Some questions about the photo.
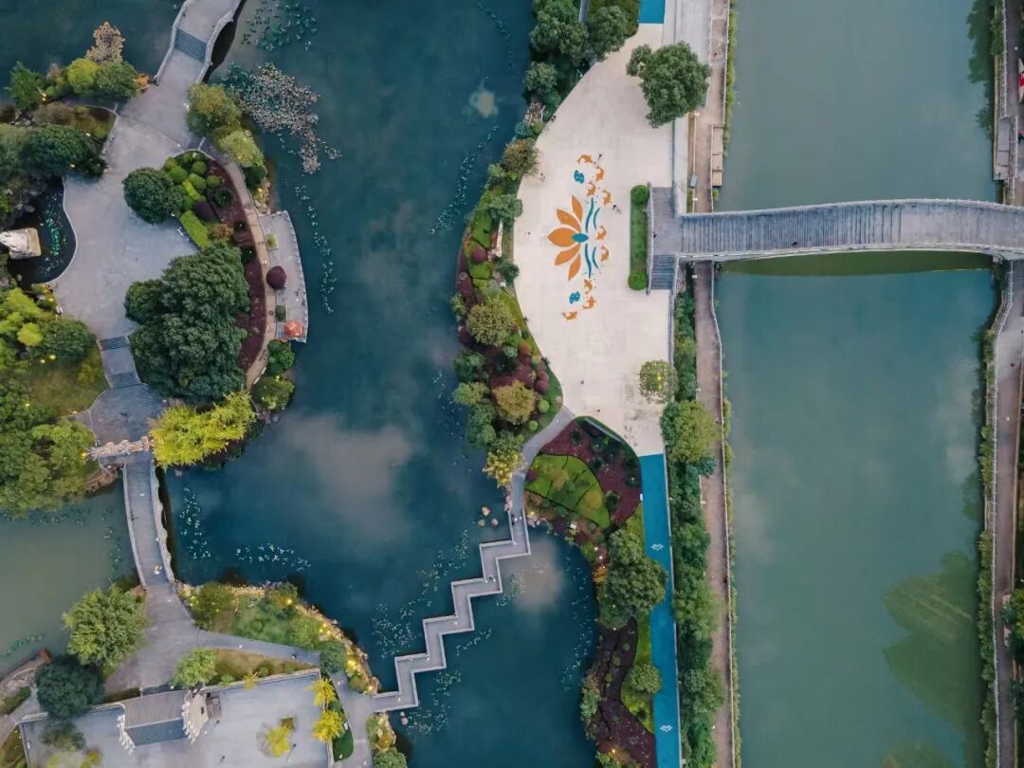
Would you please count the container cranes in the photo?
0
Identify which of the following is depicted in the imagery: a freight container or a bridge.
bridge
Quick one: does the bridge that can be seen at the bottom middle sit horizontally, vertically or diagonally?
diagonally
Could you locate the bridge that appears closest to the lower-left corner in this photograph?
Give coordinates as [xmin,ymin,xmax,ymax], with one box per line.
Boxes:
[119,461,178,589]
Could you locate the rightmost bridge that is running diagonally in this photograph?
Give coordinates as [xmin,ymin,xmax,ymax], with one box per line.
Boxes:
[373,508,532,716]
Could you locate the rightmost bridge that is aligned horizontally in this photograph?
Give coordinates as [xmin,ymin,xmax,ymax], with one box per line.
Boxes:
[680,202,1024,260]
